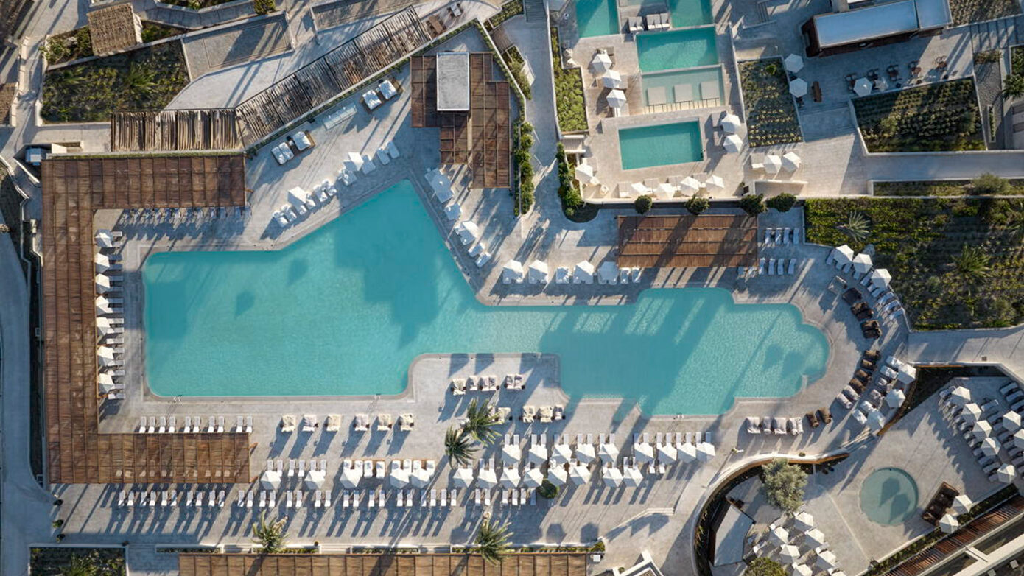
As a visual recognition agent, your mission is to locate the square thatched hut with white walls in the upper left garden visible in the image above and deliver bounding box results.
[86,1,145,59]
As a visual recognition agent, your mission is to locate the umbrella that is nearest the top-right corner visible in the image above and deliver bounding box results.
[851,78,871,97]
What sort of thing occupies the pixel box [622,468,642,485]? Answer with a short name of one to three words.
umbrella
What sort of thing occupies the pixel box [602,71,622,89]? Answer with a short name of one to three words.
umbrella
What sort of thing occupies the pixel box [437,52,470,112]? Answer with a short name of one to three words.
building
